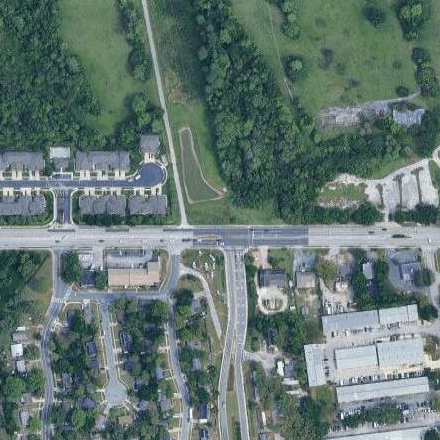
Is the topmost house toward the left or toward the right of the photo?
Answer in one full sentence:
You can find the topmost house on the left side of the picture.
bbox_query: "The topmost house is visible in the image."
[140,134,160,155]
